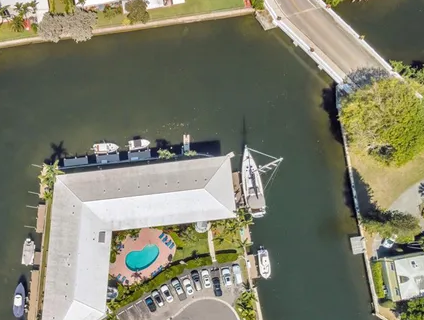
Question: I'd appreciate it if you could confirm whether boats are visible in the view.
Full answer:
Yes, the picture does show a boat.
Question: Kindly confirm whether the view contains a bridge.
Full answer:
Yes, you can see a bridge in this photo.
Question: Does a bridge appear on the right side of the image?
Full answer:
Yes, looking on the right side of the image, one can make out a bridge.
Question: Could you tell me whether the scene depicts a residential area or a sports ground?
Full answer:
The picture captures a residential area.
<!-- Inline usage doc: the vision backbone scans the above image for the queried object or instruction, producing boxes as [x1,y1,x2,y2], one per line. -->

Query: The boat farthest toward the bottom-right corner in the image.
[256,245,271,278]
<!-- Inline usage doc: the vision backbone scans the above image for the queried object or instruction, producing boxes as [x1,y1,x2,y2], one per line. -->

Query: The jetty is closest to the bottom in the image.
[27,271,39,320]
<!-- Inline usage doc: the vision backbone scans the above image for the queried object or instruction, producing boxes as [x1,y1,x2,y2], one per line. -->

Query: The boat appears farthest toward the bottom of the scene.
[13,283,26,318]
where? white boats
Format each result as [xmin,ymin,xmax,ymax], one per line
[126,139,149,151]
[22,238,34,265]
[91,142,118,154]
[242,144,281,219]
[256,245,271,278]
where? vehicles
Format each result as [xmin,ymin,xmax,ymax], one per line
[161,282,173,303]
[171,277,186,300]
[151,288,164,308]
[211,275,223,298]
[220,267,232,287]
[231,264,243,285]
[189,269,203,292]
[182,277,193,297]
[201,269,211,289]
[145,296,157,313]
